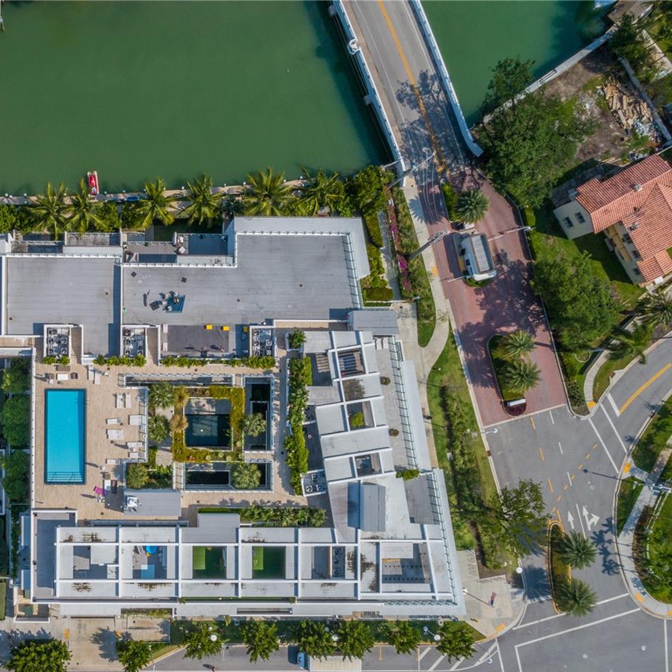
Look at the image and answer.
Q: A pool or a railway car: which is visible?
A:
pool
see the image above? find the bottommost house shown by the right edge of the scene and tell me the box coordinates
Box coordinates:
[558,154,672,287]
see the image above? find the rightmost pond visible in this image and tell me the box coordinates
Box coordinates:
[185,414,232,450]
